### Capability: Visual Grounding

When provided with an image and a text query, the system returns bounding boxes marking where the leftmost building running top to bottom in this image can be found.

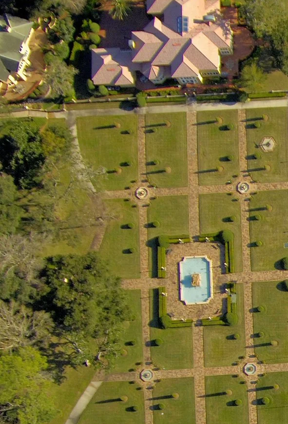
[0,13,40,101]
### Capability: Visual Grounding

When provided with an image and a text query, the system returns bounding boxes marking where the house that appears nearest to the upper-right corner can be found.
[92,0,236,87]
